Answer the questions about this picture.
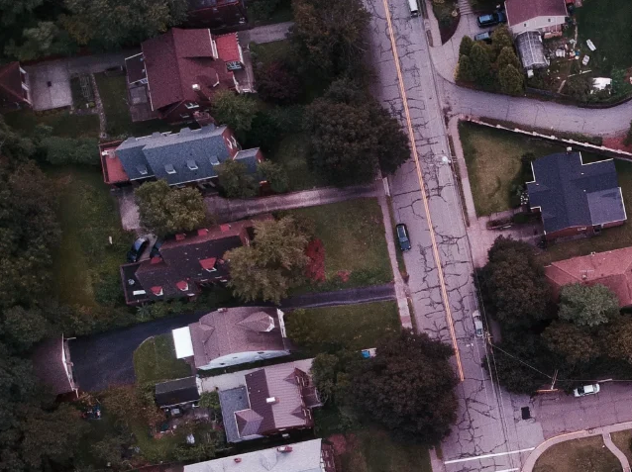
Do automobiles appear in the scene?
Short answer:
Yes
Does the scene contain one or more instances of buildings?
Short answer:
Yes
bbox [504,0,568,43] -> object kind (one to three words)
house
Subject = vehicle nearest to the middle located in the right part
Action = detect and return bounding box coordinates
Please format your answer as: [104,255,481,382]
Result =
[395,222,412,252]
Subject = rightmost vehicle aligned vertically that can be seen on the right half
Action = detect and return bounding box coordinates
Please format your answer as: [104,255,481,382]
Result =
[470,310,485,340]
